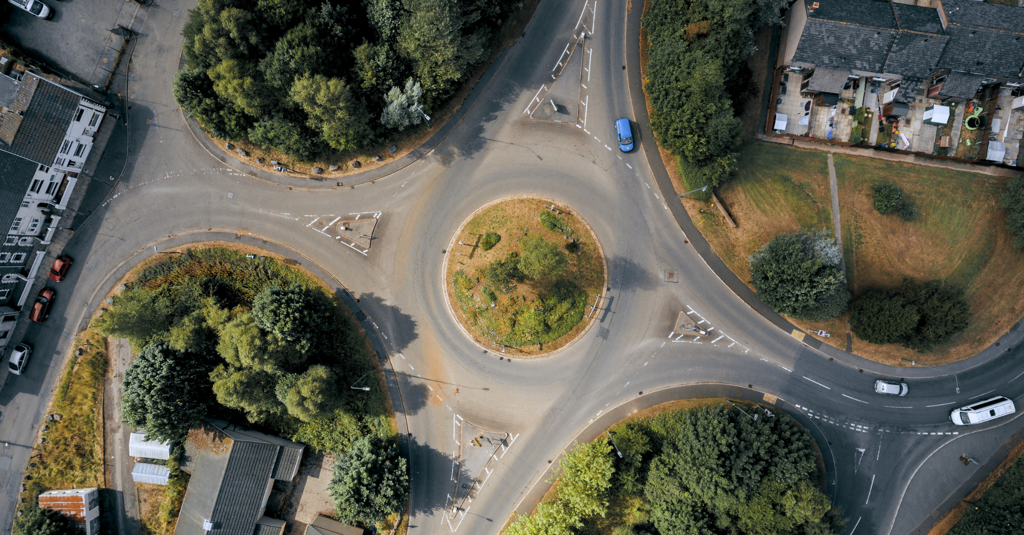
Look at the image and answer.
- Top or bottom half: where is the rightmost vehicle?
bottom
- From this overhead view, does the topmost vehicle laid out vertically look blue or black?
blue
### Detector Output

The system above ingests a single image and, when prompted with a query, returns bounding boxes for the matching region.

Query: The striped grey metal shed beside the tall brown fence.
[977,140,1007,164]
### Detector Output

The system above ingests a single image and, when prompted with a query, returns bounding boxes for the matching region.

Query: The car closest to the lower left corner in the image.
[7,342,34,375]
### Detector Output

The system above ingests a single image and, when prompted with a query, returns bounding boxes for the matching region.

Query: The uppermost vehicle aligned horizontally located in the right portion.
[873,380,907,397]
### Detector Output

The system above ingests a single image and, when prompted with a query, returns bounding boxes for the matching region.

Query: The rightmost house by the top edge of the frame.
[979,2,1024,114]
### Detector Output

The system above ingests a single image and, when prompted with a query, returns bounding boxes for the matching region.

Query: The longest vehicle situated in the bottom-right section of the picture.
[949,399,1018,426]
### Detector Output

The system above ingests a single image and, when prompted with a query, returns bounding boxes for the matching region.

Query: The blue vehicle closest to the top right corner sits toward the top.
[618,116,638,152]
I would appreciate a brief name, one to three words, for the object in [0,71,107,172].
house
